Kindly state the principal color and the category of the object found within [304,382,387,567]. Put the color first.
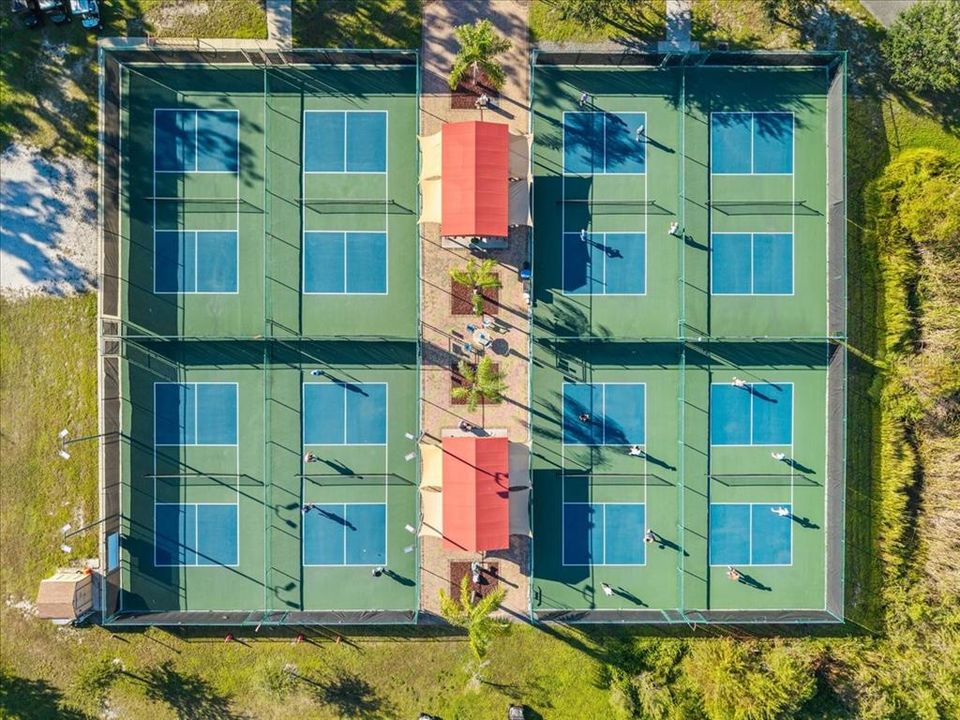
blue sports court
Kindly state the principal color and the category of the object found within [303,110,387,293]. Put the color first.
blue sports court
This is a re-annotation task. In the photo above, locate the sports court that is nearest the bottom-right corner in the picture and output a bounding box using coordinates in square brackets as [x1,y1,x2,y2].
[710,382,794,567]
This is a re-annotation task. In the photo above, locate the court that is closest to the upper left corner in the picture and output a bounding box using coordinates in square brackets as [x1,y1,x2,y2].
[153,110,238,293]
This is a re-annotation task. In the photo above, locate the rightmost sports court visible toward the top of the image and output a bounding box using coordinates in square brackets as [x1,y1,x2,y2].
[711,110,795,293]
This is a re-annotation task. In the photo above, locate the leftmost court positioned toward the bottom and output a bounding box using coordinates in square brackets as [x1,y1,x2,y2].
[154,382,239,567]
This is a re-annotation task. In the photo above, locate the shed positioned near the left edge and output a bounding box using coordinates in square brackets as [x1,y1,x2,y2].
[36,573,92,618]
